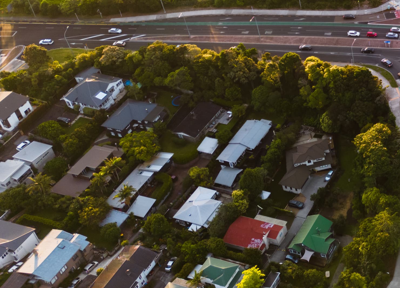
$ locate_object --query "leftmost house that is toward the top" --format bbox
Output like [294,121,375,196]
[0,94,33,131]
